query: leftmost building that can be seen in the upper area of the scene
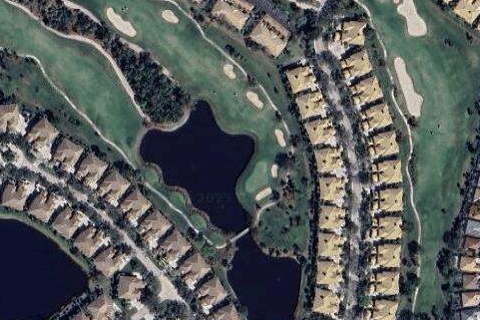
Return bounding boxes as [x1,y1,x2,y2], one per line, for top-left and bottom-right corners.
[0,104,20,129]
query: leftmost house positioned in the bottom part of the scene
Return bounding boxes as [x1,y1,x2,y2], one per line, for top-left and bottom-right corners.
[0,180,30,212]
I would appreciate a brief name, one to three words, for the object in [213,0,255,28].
building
